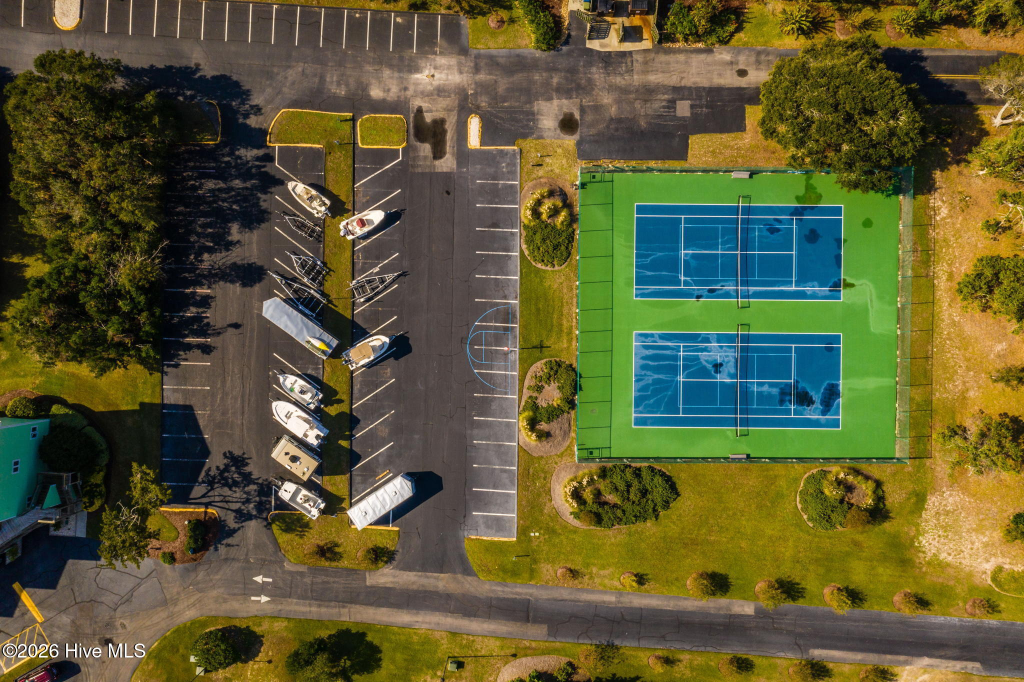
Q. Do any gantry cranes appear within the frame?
No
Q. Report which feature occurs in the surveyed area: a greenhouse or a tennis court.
tennis court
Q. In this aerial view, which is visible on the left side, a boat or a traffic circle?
boat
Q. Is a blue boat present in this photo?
No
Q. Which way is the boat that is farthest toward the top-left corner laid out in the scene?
at an angle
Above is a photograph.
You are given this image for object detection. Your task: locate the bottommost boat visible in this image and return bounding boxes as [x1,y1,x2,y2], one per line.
[279,481,329,518]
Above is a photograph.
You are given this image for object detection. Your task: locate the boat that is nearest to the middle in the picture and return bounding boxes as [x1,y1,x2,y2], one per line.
[342,336,391,370]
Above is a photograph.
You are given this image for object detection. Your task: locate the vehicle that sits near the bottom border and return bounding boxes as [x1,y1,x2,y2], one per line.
[20,661,64,682]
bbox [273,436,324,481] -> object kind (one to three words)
vehicle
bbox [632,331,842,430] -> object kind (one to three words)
tennis court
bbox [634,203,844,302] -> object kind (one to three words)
tennis court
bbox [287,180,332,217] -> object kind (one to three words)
boat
